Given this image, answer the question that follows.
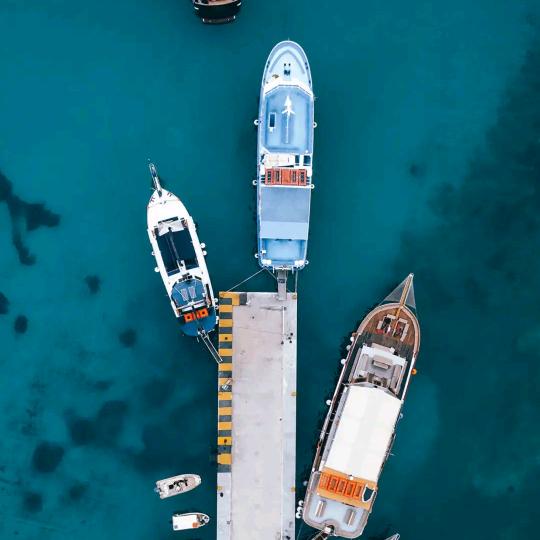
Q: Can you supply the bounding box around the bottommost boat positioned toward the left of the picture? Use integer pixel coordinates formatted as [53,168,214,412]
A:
[169,509,210,530]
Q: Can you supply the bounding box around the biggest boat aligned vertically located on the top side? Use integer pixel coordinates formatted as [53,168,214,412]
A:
[252,36,317,300]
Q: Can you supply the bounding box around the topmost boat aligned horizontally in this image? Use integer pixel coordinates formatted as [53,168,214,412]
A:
[197,0,244,23]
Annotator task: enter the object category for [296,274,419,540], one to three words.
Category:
boat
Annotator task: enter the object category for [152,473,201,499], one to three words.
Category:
boat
